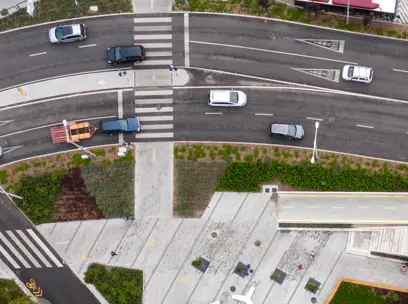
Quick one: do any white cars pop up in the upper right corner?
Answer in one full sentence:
Yes, in the upper right corner there is a white car.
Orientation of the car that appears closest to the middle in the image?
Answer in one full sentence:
The car that appears closest to the middle is oriented horizontally.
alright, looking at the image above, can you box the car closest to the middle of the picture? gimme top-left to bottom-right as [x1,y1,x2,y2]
[208,88,248,109]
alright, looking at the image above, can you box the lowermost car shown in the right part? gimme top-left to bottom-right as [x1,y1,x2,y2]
[270,122,305,141]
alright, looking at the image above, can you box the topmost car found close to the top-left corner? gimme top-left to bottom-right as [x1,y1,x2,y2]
[50,24,89,46]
